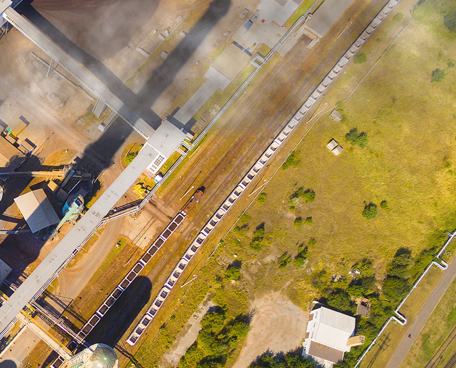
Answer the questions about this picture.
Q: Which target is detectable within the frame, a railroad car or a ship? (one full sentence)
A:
The image shows a railroad car.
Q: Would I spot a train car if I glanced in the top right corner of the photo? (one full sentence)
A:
Yes, a train car appears in the top right corner of the photo.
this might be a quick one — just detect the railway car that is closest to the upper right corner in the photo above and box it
[377,0,398,20]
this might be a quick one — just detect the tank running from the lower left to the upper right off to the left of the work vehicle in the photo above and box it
[52,192,84,236]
